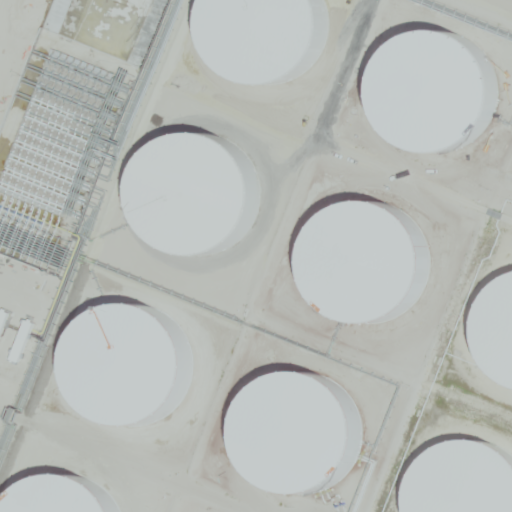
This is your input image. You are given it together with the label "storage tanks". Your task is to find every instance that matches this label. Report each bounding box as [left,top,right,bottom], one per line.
[360,30,500,154]
[188,0,329,86]
[465,270,512,389]
[52,302,194,426]
[397,438,512,512]
[120,132,262,256]
[0,471,122,512]
[222,370,364,495]
[292,200,432,324]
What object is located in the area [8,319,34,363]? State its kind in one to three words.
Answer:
shed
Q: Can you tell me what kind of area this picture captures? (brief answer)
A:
industrial area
